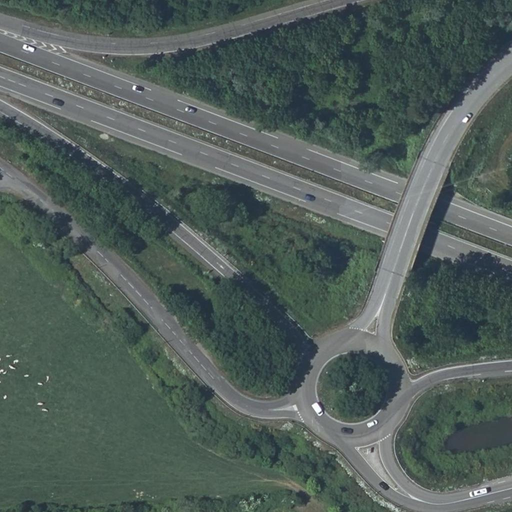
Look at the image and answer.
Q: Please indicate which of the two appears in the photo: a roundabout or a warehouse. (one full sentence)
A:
Looking from above, you can make out a roundabout.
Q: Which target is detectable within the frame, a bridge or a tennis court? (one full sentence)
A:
Visible in the photo is a bridge.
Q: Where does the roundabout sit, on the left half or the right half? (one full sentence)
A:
The roundabout sits on the right side.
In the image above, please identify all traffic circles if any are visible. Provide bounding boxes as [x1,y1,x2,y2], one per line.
[297,314,413,464]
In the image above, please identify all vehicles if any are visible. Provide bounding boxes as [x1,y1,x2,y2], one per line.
[23,45,35,52]
[304,194,316,201]
[379,482,390,491]
[132,85,144,92]
[342,428,354,434]
[366,420,378,428]
[52,98,64,106]
[313,402,324,415]
[471,488,489,497]
[184,106,196,114]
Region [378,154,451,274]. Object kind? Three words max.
bridge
